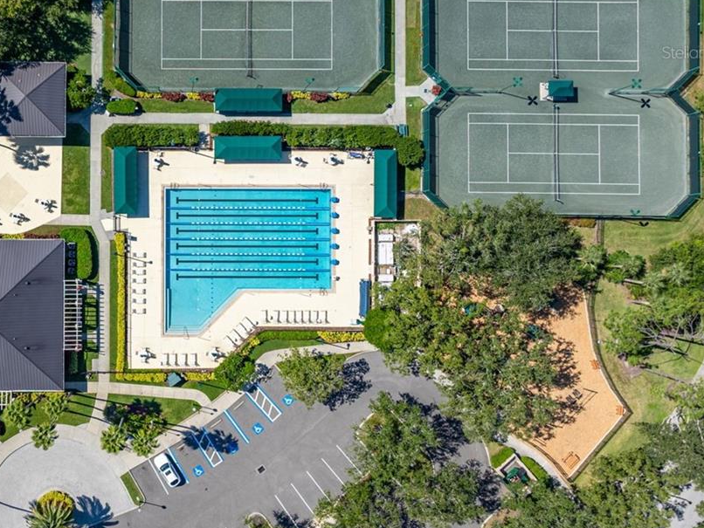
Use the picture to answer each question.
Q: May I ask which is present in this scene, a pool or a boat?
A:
pool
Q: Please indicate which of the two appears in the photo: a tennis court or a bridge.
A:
tennis court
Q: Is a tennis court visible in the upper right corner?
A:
Yes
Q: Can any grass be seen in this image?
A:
Yes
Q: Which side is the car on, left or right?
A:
left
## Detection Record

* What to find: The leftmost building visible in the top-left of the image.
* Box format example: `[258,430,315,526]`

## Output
[0,61,68,137]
